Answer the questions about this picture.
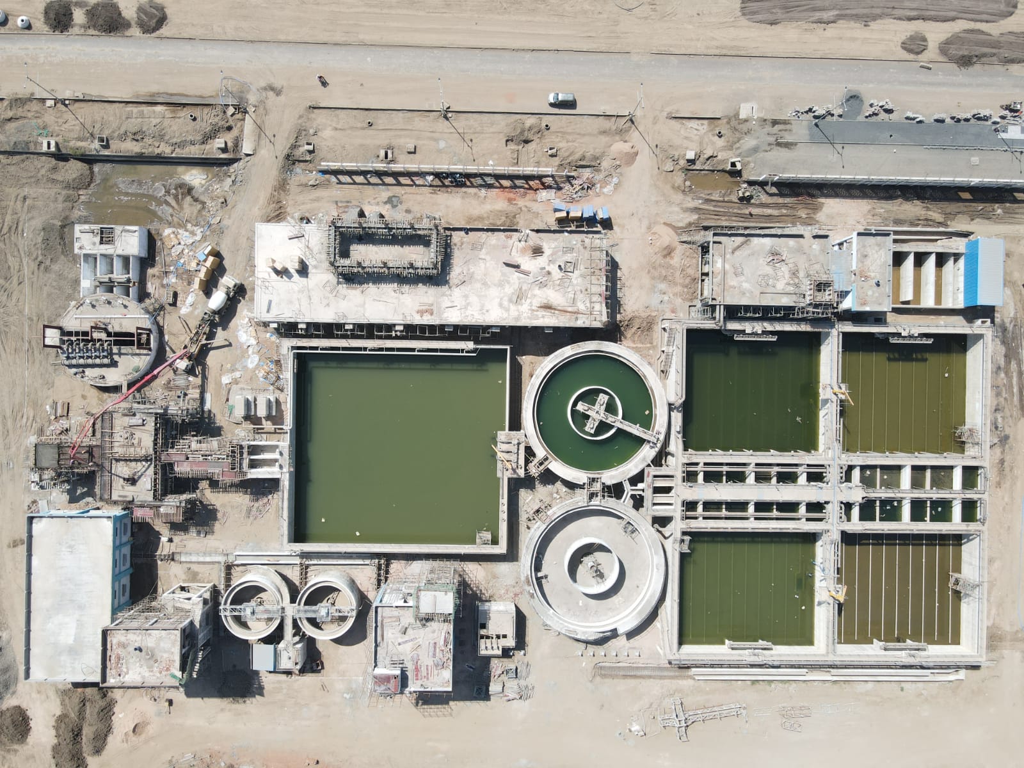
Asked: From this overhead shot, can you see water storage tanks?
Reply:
Yes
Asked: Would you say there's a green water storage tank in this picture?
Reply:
Yes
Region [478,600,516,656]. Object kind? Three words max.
building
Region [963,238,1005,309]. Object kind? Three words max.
shed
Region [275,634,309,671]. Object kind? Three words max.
building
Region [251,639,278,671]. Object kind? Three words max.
shed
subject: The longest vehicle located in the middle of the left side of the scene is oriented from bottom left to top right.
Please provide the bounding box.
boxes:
[69,314,233,464]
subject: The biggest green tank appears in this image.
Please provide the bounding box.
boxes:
[256,339,525,555]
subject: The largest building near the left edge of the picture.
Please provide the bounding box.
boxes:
[25,509,137,682]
